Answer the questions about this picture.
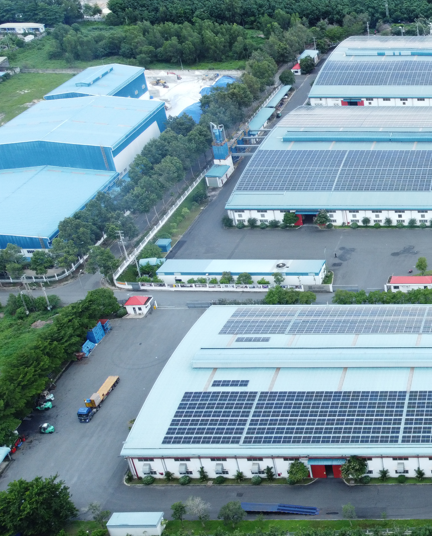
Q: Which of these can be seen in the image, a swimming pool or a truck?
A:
truck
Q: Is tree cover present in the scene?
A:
Yes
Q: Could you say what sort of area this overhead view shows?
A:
industrial area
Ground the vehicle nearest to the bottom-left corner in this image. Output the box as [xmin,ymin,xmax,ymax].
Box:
[31,422,53,435]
